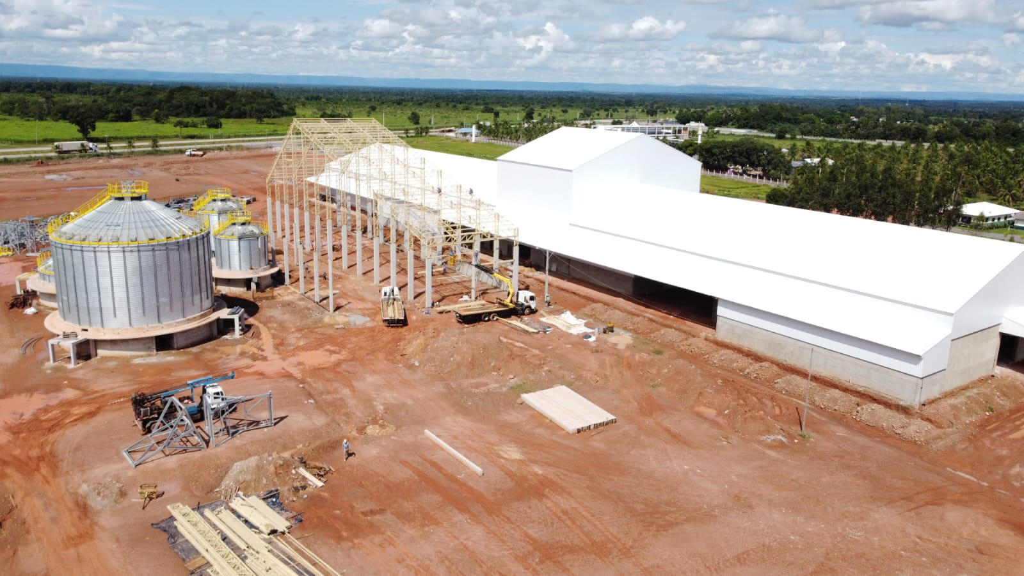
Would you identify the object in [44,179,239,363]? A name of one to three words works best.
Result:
silo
